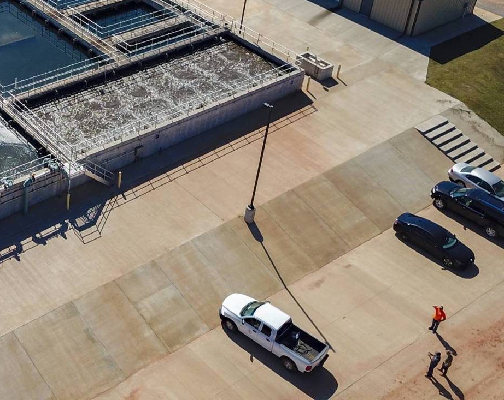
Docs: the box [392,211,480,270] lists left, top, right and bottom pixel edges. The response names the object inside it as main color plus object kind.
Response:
black car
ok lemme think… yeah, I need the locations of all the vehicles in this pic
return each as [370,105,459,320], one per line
[430,181,504,237]
[449,160,504,202]
[392,211,480,270]
[214,291,332,382]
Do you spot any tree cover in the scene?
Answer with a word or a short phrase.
No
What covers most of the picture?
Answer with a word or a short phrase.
paved ground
